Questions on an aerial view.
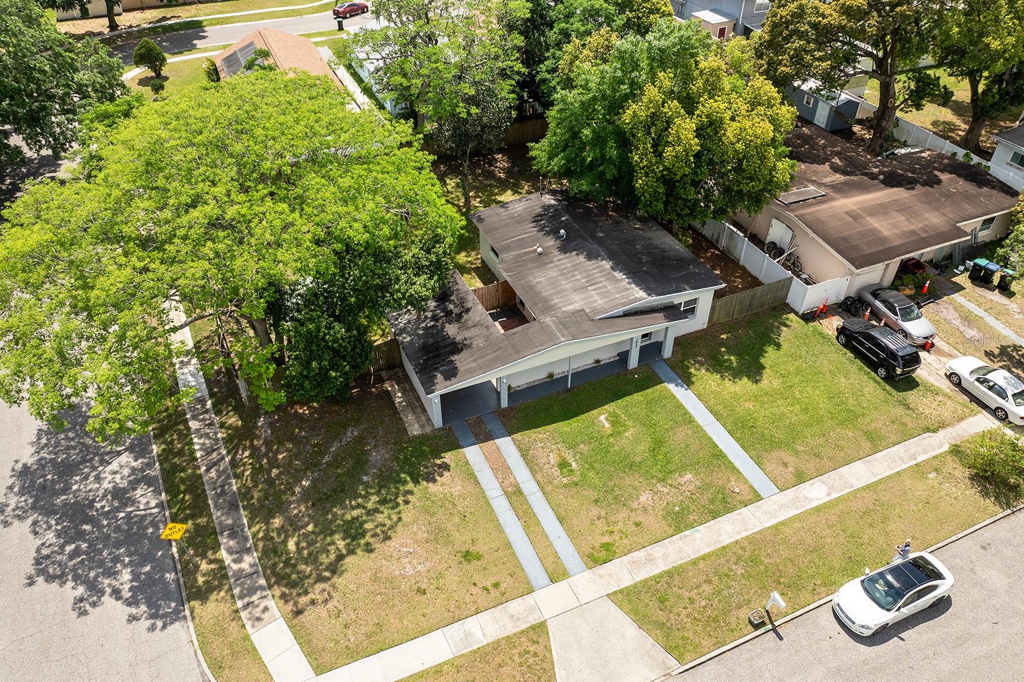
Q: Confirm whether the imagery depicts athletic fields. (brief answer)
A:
No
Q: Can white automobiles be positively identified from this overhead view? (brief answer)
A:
Yes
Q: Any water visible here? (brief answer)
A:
No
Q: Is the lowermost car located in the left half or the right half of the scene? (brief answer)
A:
right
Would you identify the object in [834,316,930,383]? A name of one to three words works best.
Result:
car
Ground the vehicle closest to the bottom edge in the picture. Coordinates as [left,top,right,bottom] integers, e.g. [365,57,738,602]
[831,553,963,642]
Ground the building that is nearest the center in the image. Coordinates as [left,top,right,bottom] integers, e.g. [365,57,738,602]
[375,174,728,429]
